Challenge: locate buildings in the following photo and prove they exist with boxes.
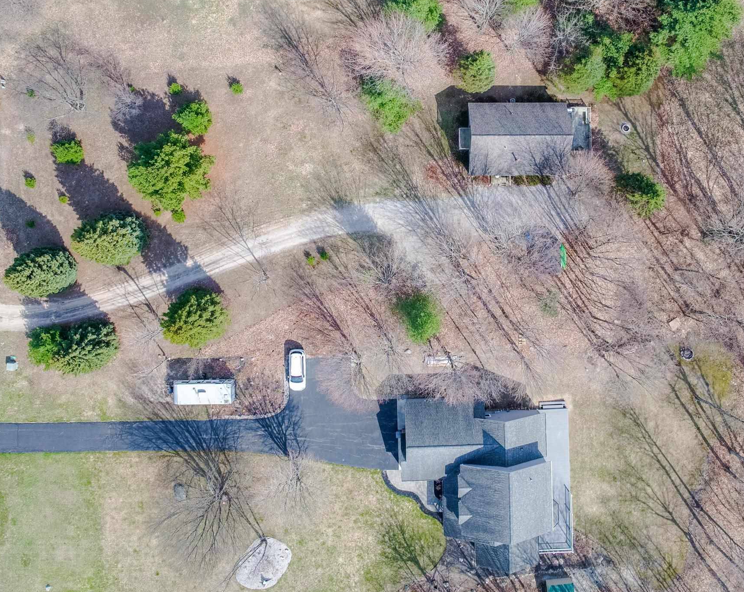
[458,101,595,192]
[546,576,574,592]
[395,392,574,575]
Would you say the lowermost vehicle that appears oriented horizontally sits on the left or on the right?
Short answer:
left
